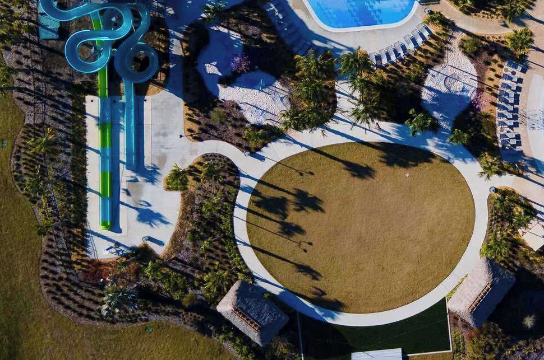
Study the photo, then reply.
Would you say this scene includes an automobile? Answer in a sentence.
No, there's no automobile here.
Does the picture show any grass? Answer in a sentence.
Yes, grass shows up in the scene.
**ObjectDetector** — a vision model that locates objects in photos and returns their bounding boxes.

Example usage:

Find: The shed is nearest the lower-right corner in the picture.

[448,260,515,328]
